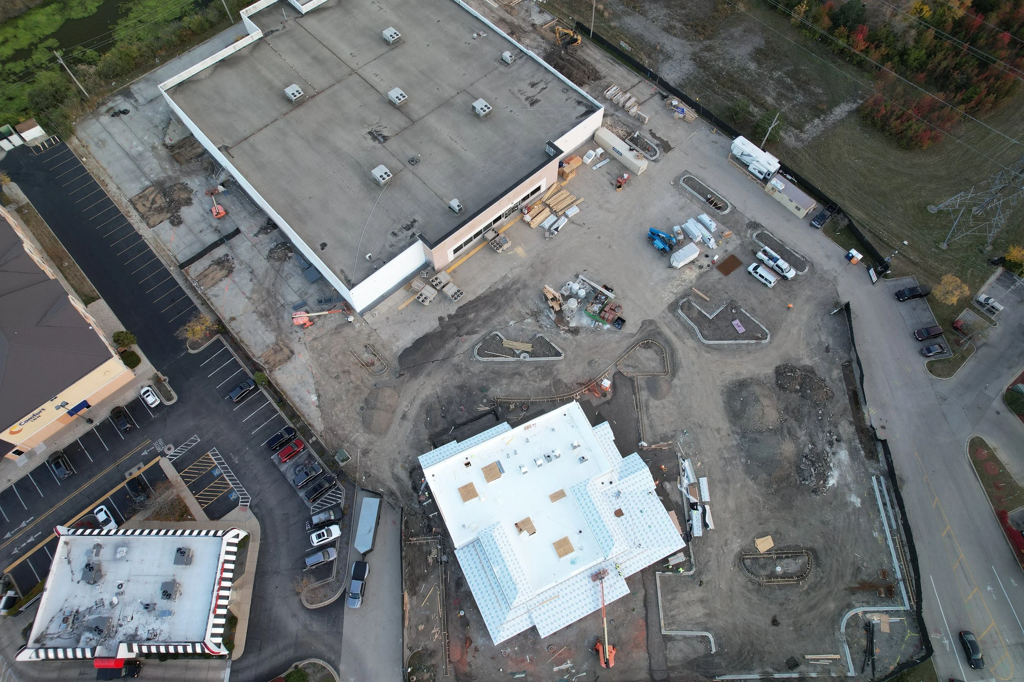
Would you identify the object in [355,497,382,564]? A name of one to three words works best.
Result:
trailer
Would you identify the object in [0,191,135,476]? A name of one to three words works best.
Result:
building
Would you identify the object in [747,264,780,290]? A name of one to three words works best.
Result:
vehicle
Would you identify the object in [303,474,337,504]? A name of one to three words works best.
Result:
car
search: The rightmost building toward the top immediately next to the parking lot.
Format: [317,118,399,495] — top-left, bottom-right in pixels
[159,0,604,311]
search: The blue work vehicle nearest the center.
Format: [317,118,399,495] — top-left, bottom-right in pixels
[646,232,679,255]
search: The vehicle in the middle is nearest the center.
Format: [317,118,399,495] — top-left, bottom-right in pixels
[541,285,566,313]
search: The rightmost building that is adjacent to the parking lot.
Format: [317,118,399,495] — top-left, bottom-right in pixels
[418,400,686,646]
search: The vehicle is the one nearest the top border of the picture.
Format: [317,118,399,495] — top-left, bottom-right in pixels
[552,19,589,47]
